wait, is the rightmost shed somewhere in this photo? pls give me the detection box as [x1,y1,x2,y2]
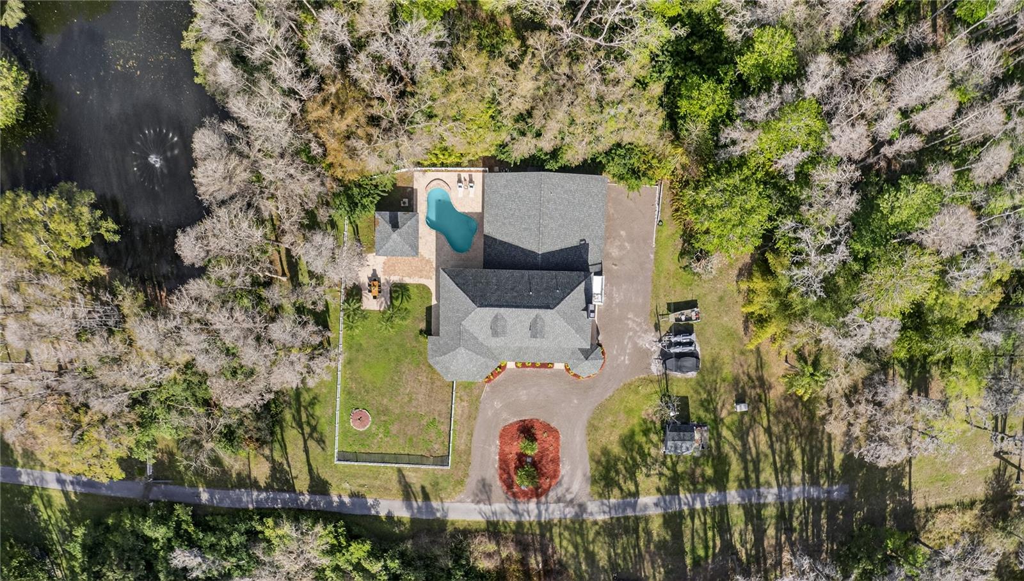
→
[662,423,697,455]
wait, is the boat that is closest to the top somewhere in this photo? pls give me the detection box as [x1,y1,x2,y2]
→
[669,309,704,321]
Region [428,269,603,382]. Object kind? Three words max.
house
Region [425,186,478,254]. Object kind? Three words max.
swimming pool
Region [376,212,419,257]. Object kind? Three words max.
gazebo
